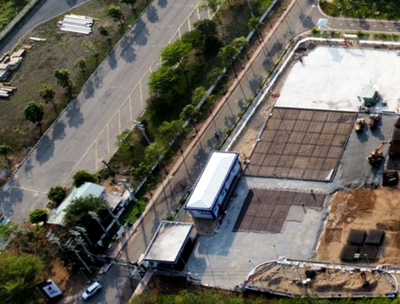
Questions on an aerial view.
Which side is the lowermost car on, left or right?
left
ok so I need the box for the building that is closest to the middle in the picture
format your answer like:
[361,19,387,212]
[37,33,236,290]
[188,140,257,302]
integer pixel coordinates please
[183,149,244,221]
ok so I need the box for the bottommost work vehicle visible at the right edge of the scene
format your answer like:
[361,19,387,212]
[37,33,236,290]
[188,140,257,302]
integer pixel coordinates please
[363,137,400,165]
